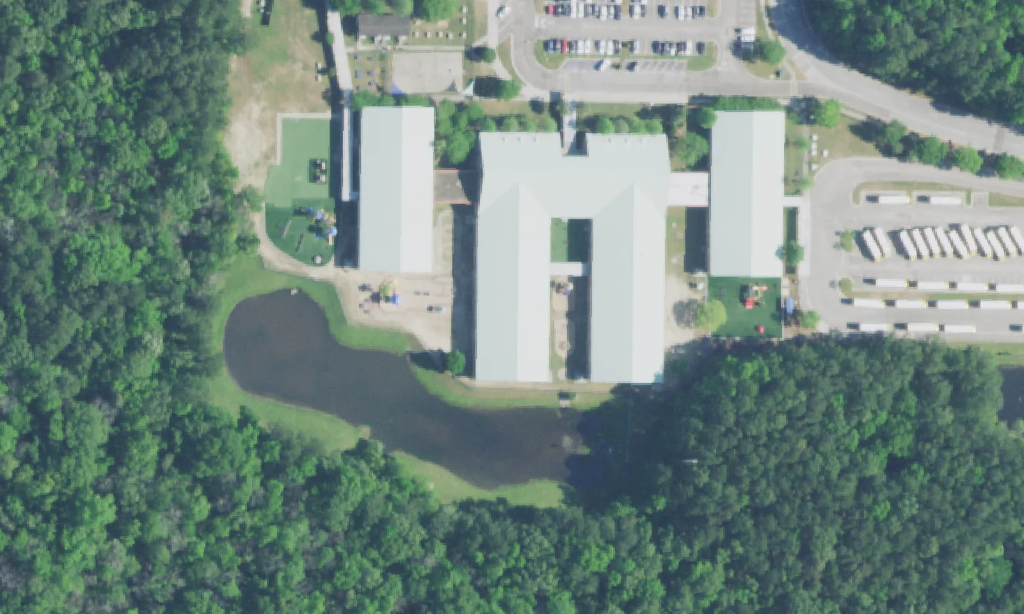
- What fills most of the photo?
trees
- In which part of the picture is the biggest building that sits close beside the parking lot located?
center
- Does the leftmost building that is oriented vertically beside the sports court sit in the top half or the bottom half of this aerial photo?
top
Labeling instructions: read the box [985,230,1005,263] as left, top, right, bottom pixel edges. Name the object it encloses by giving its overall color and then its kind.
white bus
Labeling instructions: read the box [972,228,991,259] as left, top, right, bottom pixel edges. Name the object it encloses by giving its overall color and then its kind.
white vehicle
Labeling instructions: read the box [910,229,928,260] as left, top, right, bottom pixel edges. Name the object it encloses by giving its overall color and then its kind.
white vehicle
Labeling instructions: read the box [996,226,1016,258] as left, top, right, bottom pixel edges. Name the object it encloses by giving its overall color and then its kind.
white bus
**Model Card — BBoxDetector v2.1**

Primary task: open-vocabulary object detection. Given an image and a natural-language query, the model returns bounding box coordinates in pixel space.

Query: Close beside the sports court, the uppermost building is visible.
[357,15,410,40]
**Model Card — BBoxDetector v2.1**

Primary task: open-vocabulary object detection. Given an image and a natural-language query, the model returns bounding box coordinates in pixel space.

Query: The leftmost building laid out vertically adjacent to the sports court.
[357,107,435,272]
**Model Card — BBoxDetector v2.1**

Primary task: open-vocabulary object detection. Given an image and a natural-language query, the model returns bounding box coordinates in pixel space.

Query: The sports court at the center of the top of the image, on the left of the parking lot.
[392,52,463,93]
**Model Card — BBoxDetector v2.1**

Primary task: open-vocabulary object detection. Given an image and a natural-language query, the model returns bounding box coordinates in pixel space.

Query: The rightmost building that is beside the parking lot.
[707,111,785,276]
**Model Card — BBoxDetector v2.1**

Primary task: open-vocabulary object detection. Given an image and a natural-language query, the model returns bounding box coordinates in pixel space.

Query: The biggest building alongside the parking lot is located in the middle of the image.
[475,132,670,383]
